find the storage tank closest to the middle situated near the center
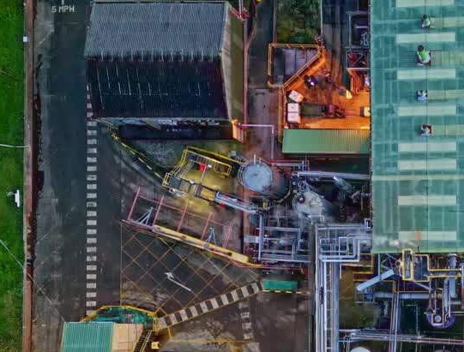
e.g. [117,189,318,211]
[240,163,295,202]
